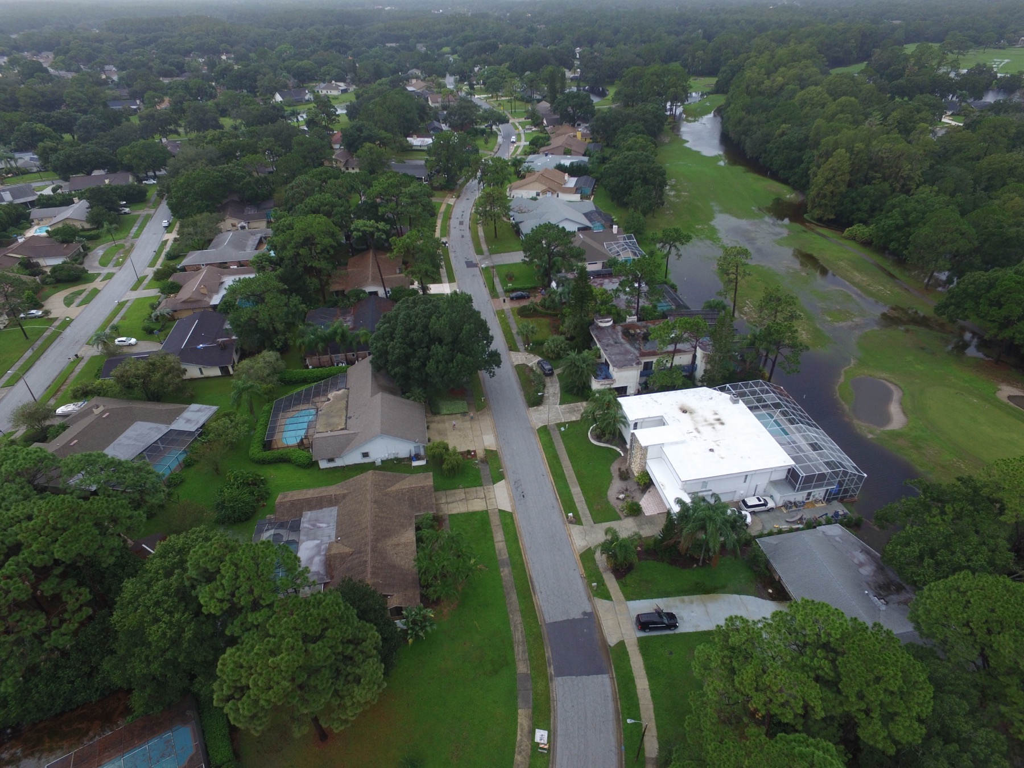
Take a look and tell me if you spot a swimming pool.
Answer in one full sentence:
Yes, the image includes a swimming pool.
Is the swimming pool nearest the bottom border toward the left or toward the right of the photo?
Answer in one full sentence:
You can find the swimming pool nearest the bottom border on the left side of the picture.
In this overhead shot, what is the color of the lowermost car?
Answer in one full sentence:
The lowermost car is black.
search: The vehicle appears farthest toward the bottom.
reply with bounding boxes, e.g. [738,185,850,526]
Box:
[636,603,681,632]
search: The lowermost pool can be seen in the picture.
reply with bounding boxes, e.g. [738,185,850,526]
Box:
[107,725,196,768]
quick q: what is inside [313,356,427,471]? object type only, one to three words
house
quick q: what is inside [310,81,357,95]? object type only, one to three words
house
